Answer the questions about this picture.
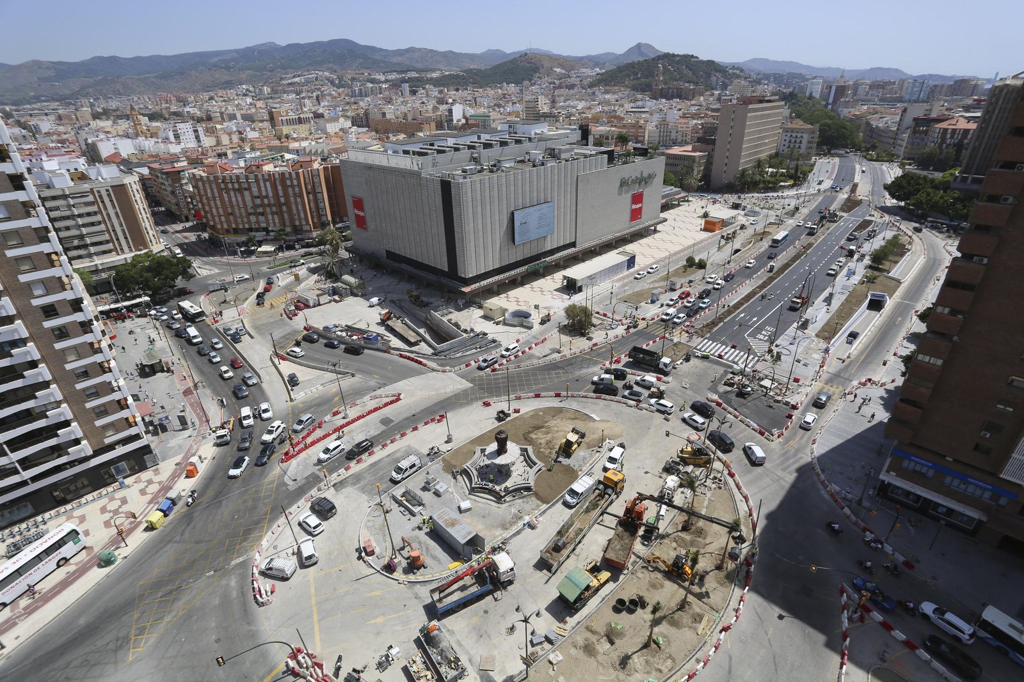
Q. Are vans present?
Yes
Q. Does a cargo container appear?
Yes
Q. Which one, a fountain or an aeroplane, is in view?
fountain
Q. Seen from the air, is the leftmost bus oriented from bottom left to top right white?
Yes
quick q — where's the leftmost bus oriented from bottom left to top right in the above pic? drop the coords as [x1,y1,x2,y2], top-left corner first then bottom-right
[0,522,85,607]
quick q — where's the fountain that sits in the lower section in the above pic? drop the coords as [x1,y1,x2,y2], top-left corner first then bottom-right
[457,424,551,502]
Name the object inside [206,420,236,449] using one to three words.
truck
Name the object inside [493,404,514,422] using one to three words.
vehicle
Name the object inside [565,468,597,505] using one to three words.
van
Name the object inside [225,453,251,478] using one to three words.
car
